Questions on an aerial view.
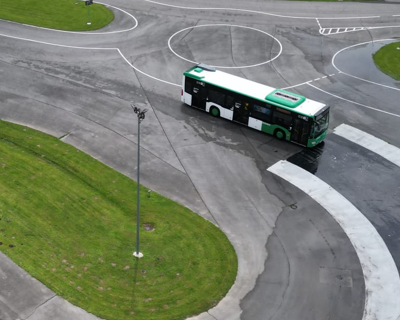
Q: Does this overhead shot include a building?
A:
No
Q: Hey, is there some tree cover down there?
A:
No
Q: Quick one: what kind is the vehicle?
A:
bus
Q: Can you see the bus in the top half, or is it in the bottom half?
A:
top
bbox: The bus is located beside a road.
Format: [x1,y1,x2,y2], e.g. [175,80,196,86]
[181,59,337,149]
